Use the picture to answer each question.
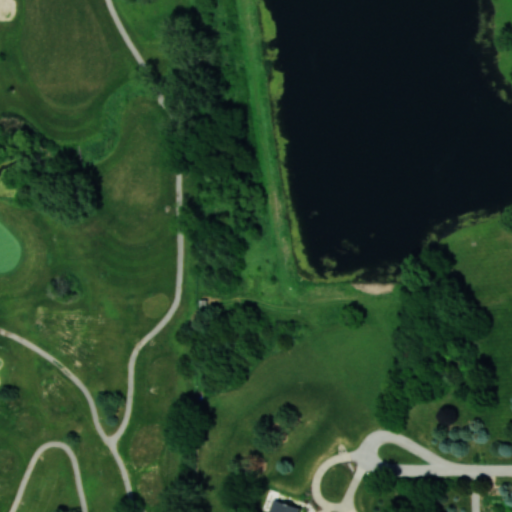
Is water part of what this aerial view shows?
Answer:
Yes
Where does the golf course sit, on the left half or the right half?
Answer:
left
